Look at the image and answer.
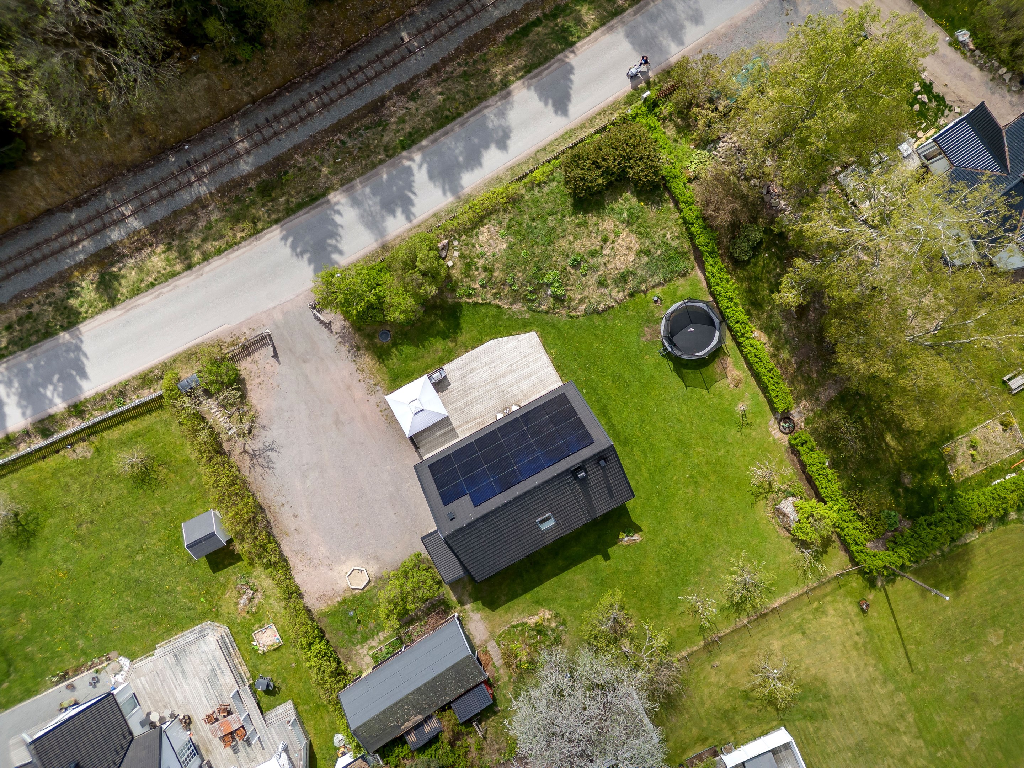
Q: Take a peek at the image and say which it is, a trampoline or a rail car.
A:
trampoline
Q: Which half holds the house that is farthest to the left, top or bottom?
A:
bottom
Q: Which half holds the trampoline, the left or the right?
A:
right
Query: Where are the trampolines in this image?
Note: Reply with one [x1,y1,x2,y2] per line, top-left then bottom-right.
[656,295,729,361]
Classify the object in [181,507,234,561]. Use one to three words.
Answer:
shed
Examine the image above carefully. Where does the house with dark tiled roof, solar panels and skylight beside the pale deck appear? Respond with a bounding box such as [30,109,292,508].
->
[413,379,637,584]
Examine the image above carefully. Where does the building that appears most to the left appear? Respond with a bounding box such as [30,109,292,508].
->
[16,685,201,768]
